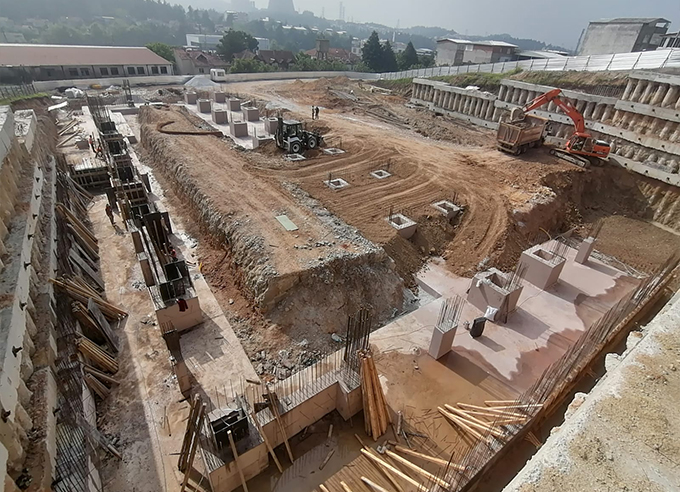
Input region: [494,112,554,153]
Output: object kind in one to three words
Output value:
truck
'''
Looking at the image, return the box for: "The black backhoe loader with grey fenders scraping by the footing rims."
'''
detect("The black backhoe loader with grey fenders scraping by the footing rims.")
[272,118,329,152]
